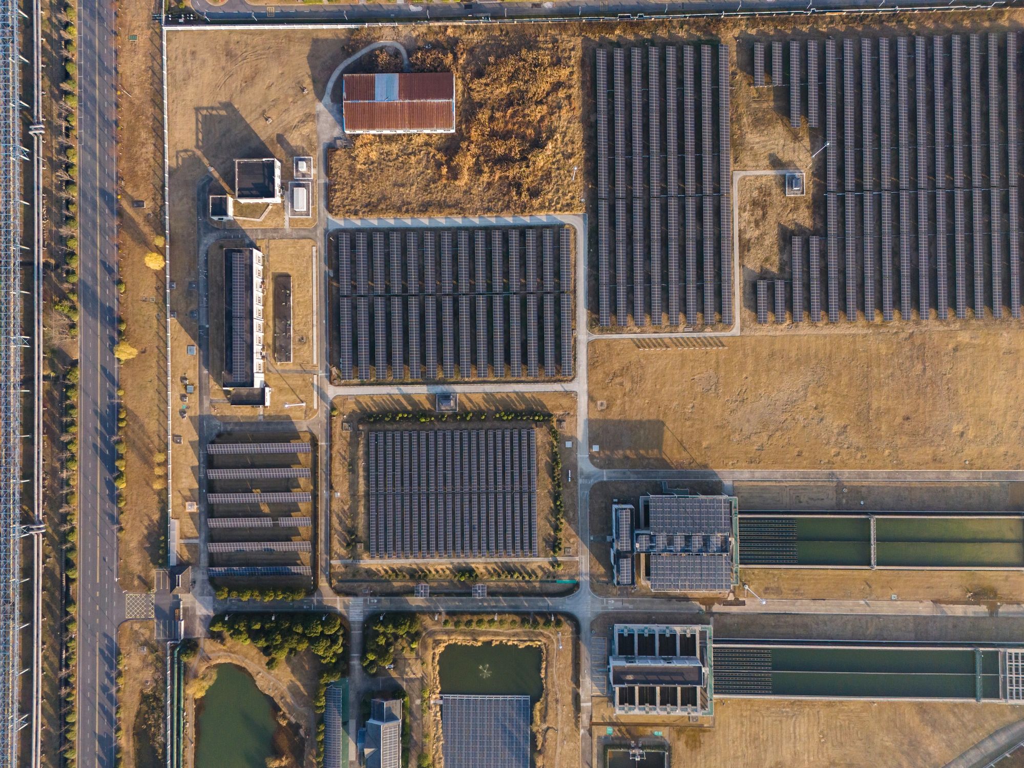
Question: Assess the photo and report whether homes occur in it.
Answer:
Yes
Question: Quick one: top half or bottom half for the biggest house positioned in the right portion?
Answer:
bottom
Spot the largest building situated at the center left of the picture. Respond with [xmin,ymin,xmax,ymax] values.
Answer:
[223,248,267,388]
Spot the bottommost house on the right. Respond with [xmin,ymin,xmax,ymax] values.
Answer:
[606,622,714,716]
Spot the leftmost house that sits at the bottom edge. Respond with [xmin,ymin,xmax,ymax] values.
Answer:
[358,695,403,768]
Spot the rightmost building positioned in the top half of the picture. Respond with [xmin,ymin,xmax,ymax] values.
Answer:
[343,73,455,134]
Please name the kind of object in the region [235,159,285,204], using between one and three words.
building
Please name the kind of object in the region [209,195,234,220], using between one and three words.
building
